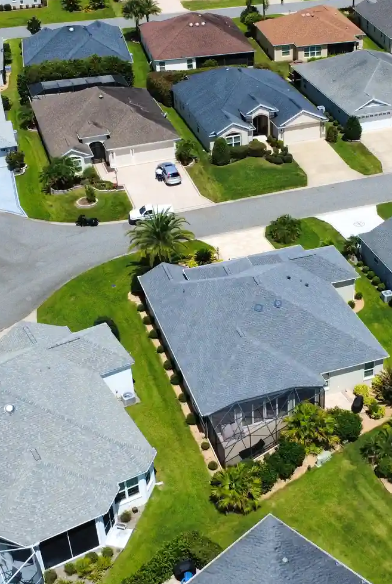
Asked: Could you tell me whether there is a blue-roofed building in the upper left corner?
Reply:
Yes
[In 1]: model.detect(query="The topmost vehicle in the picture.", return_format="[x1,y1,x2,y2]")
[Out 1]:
[158,160,179,181]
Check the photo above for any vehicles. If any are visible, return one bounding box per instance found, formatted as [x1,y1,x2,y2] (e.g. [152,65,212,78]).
[77,214,97,225]
[130,201,179,224]
[158,160,179,181]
